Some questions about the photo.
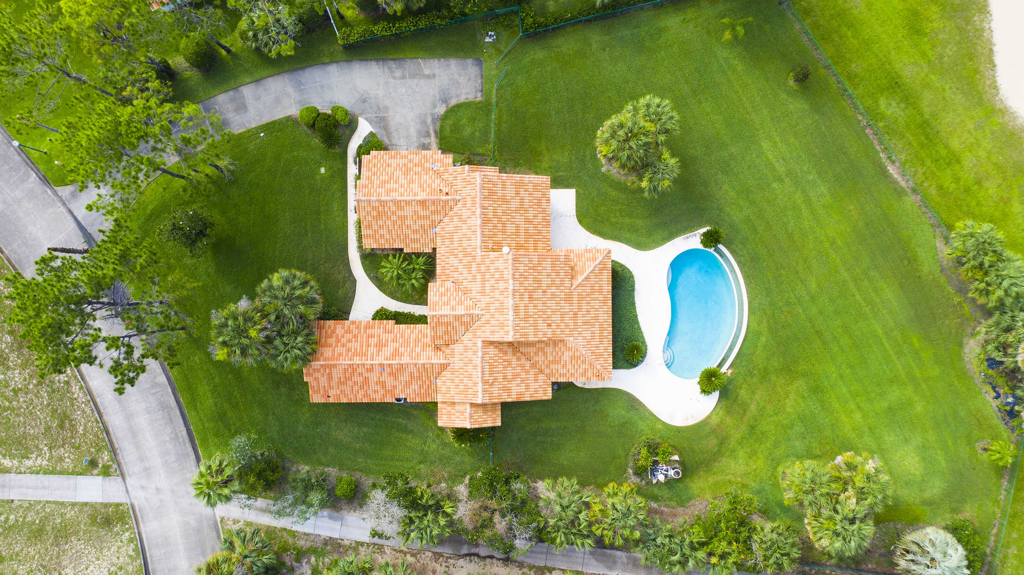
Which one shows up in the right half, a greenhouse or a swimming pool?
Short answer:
swimming pool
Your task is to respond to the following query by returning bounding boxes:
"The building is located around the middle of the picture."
[304,150,613,429]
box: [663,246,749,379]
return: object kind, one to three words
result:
swimming pool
